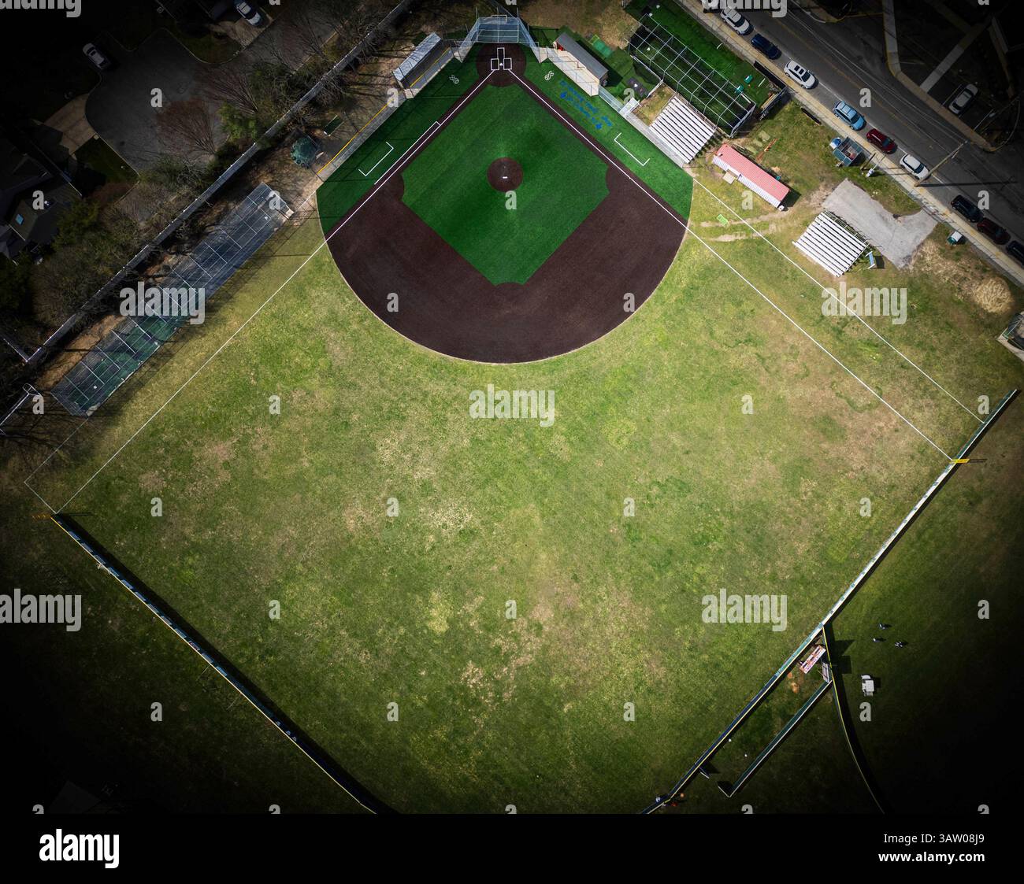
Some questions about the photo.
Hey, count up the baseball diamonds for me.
1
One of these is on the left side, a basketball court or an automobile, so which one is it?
automobile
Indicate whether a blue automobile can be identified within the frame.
Yes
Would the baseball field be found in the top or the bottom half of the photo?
top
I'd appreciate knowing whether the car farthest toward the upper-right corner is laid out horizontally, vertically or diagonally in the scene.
diagonally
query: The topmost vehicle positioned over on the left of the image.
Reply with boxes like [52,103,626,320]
[235,0,261,28]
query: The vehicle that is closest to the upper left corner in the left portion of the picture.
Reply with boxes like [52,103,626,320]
[86,42,109,71]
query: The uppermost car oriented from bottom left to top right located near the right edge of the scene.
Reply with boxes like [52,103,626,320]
[949,84,977,114]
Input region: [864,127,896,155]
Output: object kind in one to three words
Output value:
car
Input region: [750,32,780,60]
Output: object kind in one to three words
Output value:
car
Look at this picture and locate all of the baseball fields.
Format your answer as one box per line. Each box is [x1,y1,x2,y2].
[24,42,983,513]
